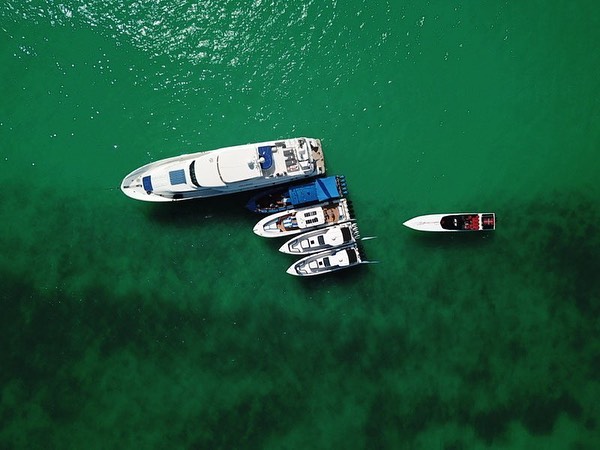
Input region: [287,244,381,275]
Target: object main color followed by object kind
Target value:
white boat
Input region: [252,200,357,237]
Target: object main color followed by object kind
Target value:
white boat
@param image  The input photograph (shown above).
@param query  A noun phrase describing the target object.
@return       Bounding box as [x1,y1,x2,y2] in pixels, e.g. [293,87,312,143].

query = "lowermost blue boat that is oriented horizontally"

[247,176,347,213]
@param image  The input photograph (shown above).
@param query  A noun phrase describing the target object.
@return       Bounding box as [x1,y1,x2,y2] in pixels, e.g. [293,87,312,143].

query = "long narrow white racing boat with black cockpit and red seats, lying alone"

[403,213,496,232]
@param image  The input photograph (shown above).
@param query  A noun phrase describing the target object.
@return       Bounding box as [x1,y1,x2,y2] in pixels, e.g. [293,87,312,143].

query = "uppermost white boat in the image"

[114,137,327,201]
